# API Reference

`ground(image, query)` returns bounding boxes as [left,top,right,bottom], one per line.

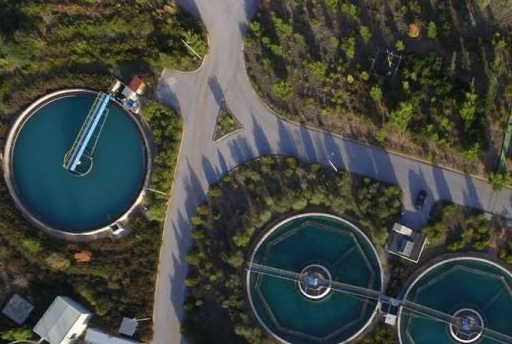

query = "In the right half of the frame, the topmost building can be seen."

[385,223,427,263]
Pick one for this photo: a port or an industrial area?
industrial area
